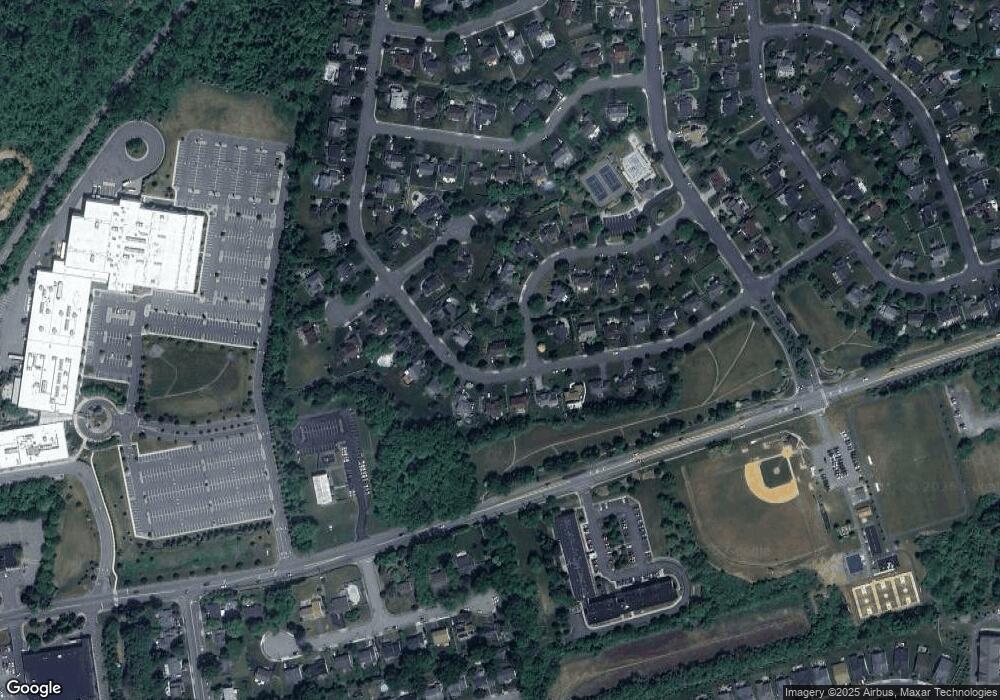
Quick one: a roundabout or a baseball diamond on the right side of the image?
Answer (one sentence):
It is a baseball diamond that can be seen on the right side of the image.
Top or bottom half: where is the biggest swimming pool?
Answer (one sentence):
It is in the top half that the biggest swimming pool appears.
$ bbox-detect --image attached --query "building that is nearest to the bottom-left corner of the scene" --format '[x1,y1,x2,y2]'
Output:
[21,635,99,700]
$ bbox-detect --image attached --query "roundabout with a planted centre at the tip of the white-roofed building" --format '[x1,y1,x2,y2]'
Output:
[74,396,118,441]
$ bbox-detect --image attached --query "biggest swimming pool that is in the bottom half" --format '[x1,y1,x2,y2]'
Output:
[348,585,360,604]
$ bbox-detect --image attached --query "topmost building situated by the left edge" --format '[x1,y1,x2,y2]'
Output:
[11,199,205,424]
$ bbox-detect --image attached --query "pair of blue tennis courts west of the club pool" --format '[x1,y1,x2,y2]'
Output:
[582,165,625,206]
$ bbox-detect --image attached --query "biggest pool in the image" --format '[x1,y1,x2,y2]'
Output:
[621,150,656,186]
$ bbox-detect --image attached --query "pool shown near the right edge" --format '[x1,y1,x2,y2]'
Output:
[946,68,965,84]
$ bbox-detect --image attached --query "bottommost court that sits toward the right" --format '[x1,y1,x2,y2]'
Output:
[858,572,924,619]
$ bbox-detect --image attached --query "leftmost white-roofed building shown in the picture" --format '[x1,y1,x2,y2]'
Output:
[0,422,68,469]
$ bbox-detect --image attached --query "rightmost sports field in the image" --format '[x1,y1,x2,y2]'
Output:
[864,397,962,530]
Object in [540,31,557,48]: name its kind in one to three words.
swimming pool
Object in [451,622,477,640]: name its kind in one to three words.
house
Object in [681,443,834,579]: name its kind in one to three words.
baseball field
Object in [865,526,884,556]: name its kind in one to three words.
building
